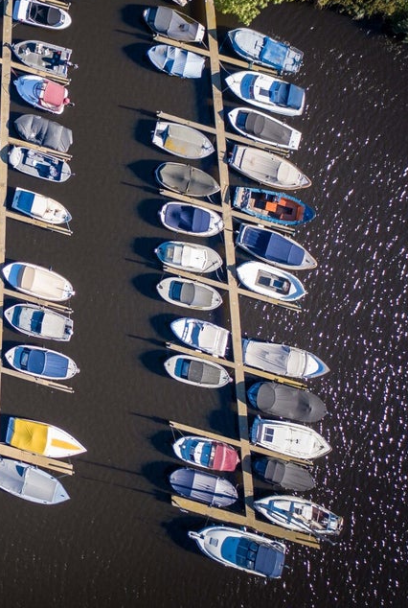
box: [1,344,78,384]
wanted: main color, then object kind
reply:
blue boat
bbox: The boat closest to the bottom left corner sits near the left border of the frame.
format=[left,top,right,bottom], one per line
[0,456,71,505]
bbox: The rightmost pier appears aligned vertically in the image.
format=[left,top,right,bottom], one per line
[148,0,326,553]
